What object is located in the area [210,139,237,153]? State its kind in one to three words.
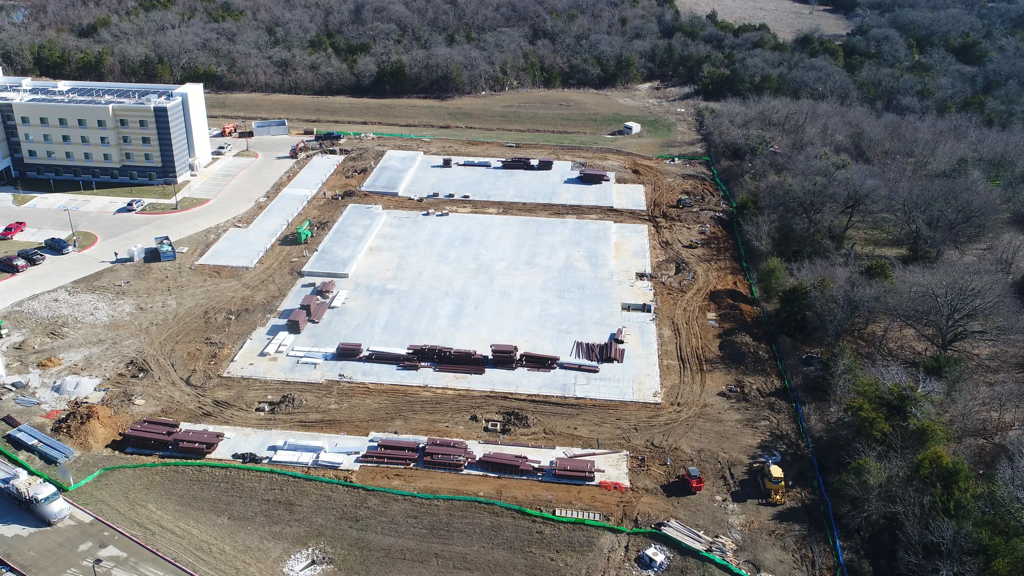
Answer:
vehicle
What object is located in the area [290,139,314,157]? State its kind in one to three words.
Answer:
work vehicle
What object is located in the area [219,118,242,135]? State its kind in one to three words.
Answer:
work vehicle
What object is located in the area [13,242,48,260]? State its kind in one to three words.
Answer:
vehicle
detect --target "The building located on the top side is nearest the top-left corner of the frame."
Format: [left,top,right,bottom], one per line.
[0,69,209,183]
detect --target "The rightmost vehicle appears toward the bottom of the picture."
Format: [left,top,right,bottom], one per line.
[752,458,788,510]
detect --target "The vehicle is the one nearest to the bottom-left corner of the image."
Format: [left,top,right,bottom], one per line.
[0,468,65,518]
